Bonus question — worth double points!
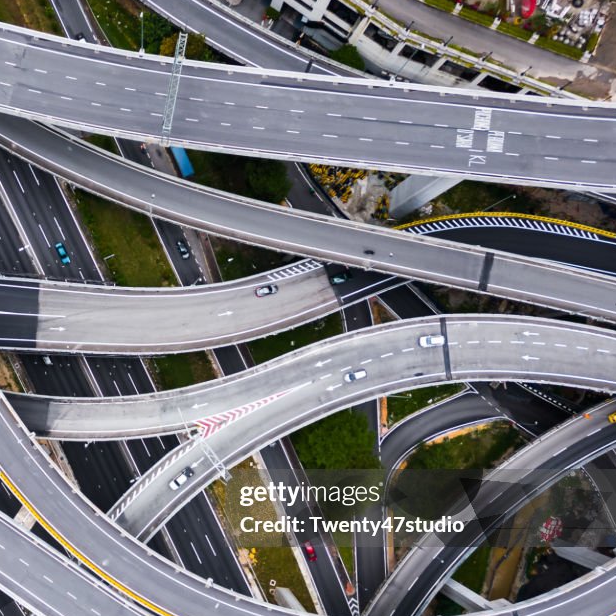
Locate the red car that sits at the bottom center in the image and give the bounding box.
[304,543,318,565]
